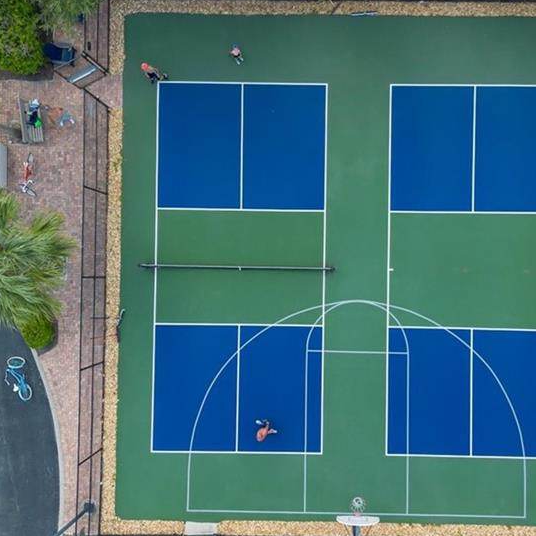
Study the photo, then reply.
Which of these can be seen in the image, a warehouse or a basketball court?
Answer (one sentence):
The image shows a basketball court.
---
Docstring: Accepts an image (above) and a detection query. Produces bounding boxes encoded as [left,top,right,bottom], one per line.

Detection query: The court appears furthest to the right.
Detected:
[386,84,536,459]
